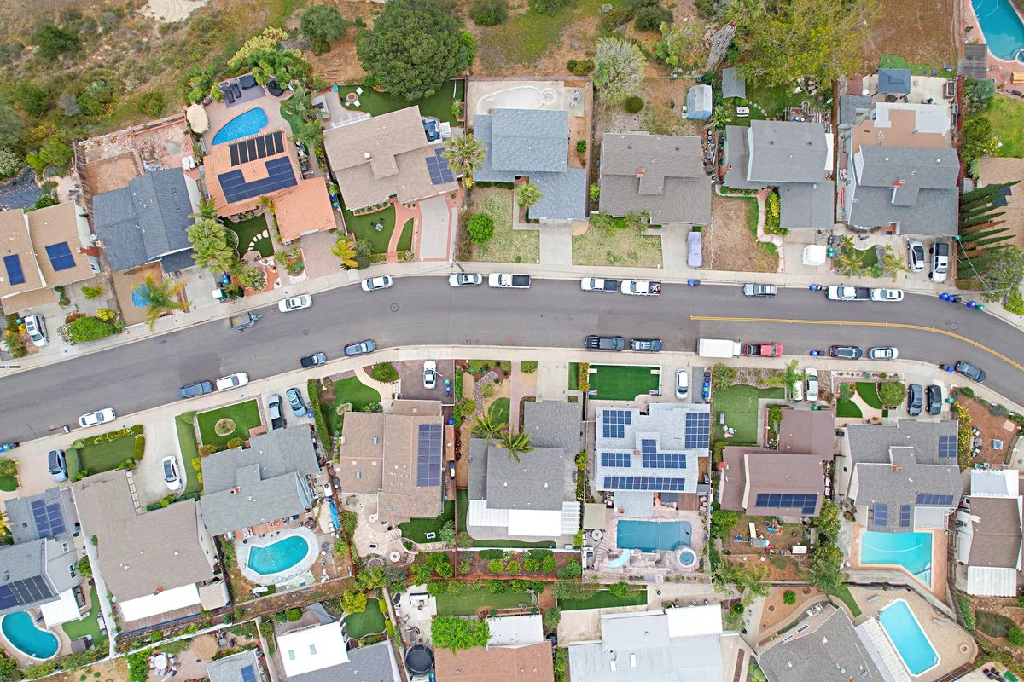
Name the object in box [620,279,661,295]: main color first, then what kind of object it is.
white vehicle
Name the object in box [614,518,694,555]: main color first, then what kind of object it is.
blue swimming pool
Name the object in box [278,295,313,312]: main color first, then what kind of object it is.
white car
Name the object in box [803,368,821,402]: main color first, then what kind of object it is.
white car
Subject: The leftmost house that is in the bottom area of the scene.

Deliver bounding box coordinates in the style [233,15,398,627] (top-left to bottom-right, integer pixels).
[0,485,91,629]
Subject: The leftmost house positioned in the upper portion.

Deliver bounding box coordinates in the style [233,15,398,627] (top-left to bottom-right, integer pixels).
[0,201,105,316]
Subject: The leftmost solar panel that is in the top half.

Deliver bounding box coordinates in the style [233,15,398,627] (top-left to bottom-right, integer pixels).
[4,254,24,284]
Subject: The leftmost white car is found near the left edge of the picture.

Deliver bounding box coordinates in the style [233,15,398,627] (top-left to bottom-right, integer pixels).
[25,312,50,346]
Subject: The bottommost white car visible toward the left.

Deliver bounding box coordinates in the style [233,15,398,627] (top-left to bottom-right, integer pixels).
[162,454,185,491]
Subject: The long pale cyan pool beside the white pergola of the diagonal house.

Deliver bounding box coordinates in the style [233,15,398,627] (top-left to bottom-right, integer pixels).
[878,599,941,677]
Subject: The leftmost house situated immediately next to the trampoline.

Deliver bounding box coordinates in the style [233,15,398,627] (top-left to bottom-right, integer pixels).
[277,615,405,682]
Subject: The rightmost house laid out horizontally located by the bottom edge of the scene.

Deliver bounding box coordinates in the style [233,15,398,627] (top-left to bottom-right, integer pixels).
[749,603,913,682]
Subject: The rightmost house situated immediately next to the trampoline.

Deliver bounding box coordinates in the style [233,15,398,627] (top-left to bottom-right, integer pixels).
[435,609,555,682]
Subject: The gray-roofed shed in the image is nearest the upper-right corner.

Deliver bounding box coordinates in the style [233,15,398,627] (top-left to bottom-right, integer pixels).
[954,44,988,83]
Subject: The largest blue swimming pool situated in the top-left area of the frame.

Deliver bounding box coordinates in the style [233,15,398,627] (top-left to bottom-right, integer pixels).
[211,105,269,148]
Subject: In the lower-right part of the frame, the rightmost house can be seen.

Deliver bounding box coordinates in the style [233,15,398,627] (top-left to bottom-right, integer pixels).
[947,467,1024,597]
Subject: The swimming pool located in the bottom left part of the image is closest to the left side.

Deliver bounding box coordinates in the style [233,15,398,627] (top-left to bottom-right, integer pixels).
[0,609,61,662]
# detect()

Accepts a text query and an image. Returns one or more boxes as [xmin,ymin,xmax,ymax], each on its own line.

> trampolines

[402,644,434,681]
